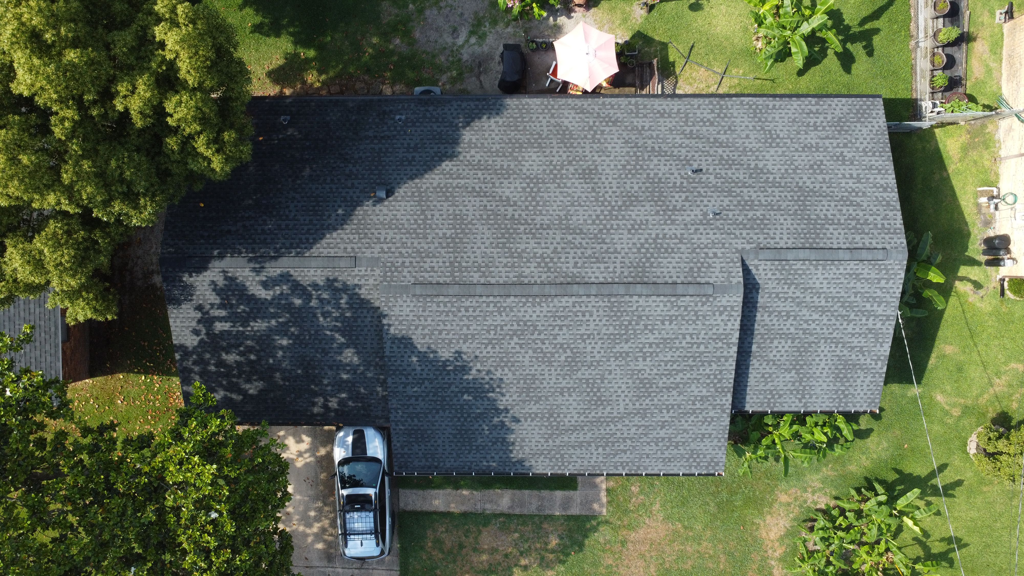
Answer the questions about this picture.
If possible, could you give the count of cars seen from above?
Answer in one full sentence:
The photo contains exactly 1 car.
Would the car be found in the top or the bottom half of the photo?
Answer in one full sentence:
Seen from above, the car lies in the bottom half of the view.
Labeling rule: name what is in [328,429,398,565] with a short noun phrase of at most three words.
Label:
car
